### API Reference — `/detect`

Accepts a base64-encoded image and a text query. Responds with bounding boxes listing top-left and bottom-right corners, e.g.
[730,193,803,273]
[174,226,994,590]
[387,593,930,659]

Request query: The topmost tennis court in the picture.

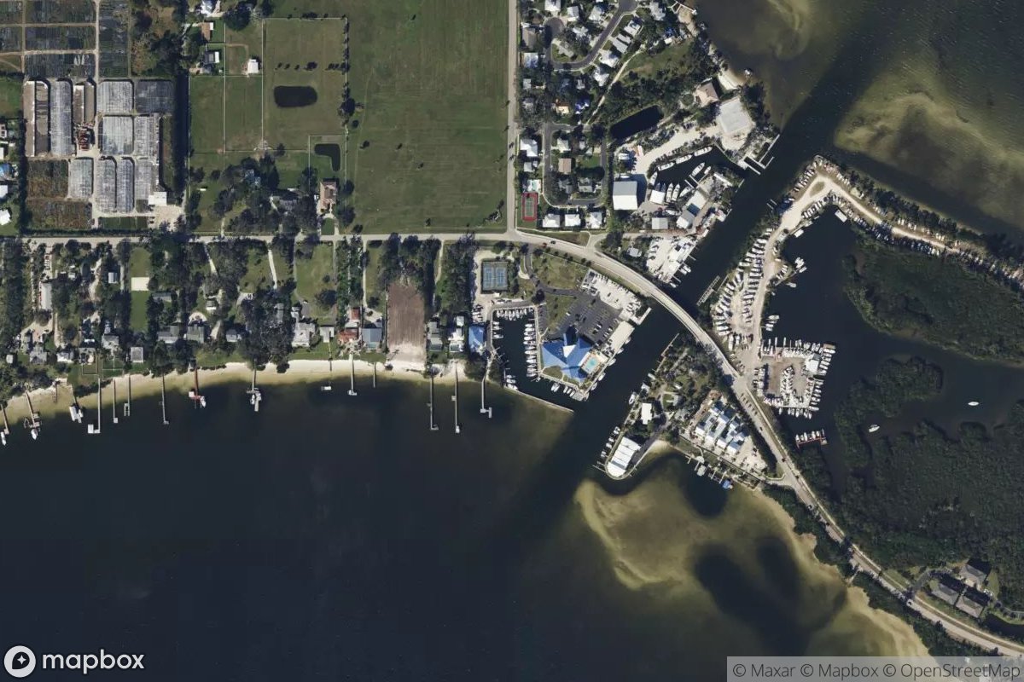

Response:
[522,193,537,221]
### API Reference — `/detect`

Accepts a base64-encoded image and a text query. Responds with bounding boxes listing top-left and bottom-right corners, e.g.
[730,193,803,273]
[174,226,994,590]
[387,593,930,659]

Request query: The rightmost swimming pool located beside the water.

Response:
[585,351,604,375]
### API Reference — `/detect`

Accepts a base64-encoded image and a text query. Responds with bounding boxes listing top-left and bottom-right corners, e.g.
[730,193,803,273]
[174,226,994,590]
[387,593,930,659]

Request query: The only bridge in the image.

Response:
[633,272,715,346]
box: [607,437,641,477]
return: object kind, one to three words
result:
shed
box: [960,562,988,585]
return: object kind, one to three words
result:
house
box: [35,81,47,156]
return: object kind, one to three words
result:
greenhouse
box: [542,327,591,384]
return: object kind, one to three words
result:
building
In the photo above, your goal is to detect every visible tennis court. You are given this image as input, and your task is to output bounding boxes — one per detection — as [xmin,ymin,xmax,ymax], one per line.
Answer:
[483,263,495,292]
[495,263,507,292]
[522,193,537,221]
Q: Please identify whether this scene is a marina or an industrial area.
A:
marina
